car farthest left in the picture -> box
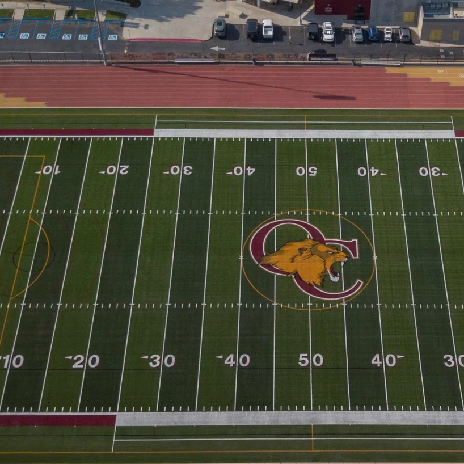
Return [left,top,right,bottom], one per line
[213,17,227,36]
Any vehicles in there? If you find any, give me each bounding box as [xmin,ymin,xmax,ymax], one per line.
[398,22,412,40]
[322,18,335,41]
[213,17,227,36]
[262,17,275,37]
[246,19,259,39]
[366,22,380,41]
[306,22,320,39]
[352,18,365,41]
[382,23,395,40]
